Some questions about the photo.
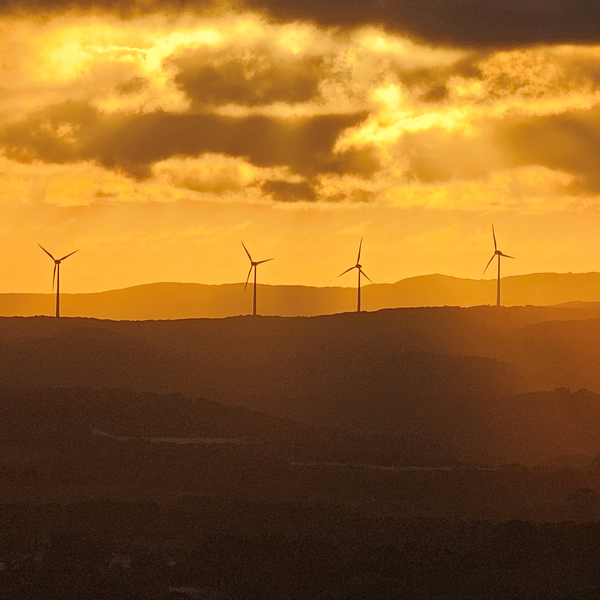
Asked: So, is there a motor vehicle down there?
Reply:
No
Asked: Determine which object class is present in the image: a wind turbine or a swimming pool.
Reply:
wind turbine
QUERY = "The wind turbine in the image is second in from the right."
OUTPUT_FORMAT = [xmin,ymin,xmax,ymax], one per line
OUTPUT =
[339,242,372,311]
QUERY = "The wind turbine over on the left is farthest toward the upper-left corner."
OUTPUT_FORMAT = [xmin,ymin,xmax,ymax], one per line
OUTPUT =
[38,243,78,318]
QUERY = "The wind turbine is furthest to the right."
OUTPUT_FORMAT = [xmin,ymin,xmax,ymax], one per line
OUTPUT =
[483,225,516,305]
